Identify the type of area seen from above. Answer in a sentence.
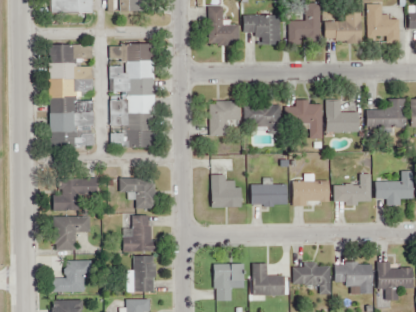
What you see here is a residential area.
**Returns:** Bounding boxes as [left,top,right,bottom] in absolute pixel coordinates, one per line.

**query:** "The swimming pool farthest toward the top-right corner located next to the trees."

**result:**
[328,137,352,152]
